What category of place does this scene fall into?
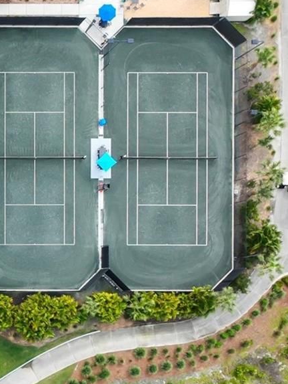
sports ground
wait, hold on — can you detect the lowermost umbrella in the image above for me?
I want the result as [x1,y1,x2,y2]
[95,151,116,172]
